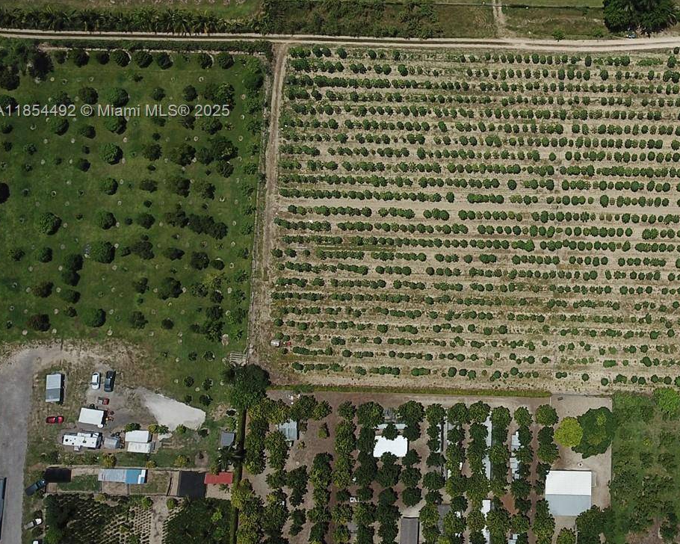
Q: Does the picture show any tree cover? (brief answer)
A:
Yes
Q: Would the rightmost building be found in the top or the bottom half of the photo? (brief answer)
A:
bottom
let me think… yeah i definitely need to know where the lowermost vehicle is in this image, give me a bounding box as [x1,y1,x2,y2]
[22,516,43,532]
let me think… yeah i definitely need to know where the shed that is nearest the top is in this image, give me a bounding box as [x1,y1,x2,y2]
[43,372,67,402]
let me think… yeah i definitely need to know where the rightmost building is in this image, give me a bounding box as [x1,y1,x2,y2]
[546,468,595,516]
